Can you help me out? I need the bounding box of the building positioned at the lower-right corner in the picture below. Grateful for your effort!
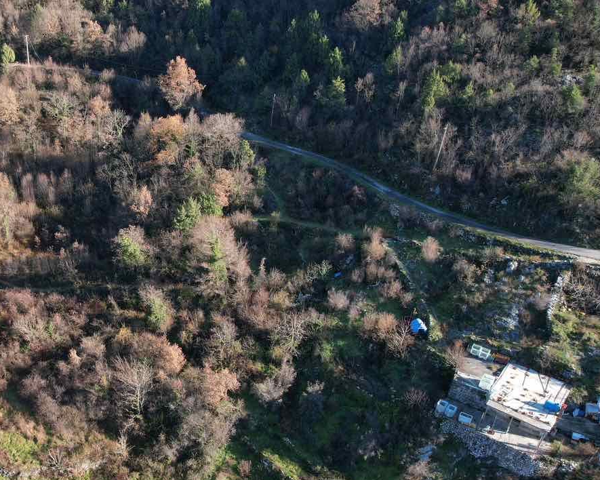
[478,363,572,455]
